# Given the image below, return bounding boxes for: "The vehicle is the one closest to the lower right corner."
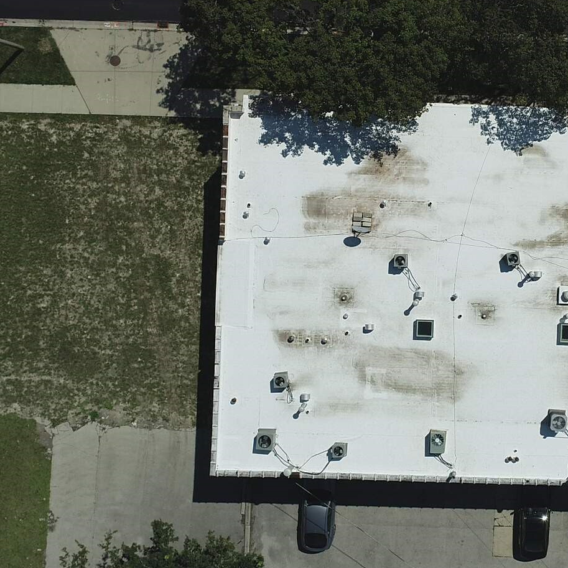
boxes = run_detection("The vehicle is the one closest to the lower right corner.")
[513,485,553,560]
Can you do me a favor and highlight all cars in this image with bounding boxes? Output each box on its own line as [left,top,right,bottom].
[300,478,338,554]
[513,485,553,560]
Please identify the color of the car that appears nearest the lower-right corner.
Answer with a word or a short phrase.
black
